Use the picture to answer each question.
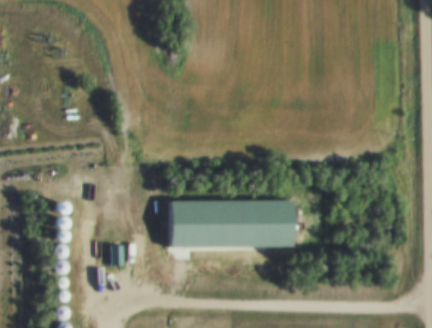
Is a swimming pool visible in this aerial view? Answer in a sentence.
No, this view has no swimming pool in it.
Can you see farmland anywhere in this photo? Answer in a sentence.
Yes, there is farmland in the image.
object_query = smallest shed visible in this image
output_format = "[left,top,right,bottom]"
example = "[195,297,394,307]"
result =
[108,242,124,267]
